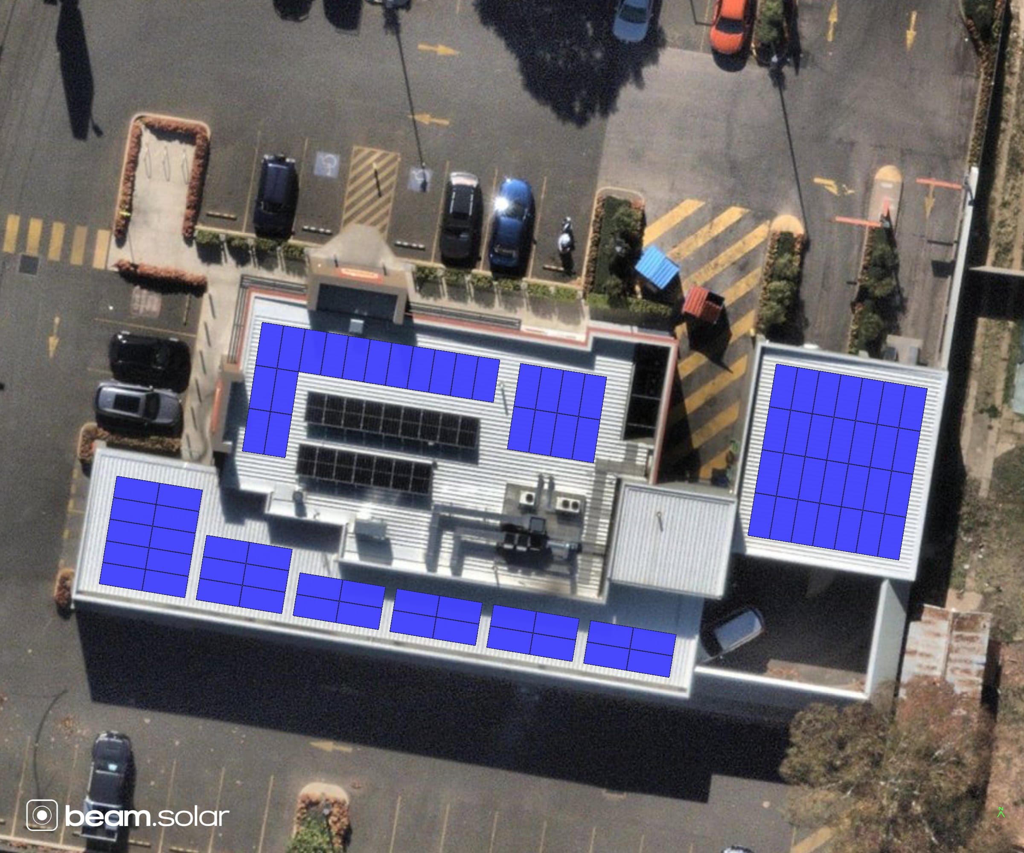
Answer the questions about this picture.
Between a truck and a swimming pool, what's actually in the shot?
truck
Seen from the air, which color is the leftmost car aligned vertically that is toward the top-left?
black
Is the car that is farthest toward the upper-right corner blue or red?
red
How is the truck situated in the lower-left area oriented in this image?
from top to bottom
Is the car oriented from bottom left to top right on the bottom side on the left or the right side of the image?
right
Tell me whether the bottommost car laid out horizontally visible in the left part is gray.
Yes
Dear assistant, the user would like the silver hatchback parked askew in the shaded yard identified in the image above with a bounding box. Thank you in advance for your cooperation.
[699,603,771,665]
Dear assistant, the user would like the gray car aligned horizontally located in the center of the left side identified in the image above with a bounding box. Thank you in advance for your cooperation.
[94,377,184,424]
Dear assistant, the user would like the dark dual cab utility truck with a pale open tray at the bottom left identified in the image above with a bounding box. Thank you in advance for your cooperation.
[81,728,129,843]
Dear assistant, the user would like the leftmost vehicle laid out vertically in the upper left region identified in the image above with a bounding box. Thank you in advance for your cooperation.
[254,151,296,240]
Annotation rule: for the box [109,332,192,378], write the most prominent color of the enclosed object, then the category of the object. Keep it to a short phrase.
black car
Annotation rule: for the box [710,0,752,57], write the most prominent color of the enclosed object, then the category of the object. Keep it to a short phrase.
red car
